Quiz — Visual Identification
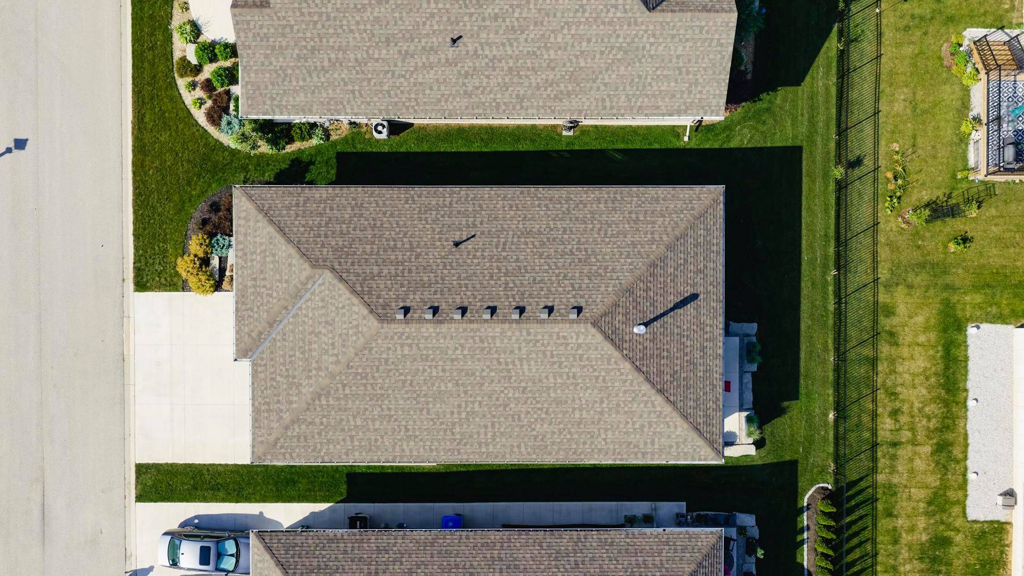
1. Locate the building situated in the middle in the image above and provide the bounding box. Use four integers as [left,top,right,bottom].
[235,187,724,463]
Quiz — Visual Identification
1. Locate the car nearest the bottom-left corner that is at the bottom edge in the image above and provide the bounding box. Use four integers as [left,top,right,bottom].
[156,527,251,576]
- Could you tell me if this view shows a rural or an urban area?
urban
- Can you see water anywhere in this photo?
No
